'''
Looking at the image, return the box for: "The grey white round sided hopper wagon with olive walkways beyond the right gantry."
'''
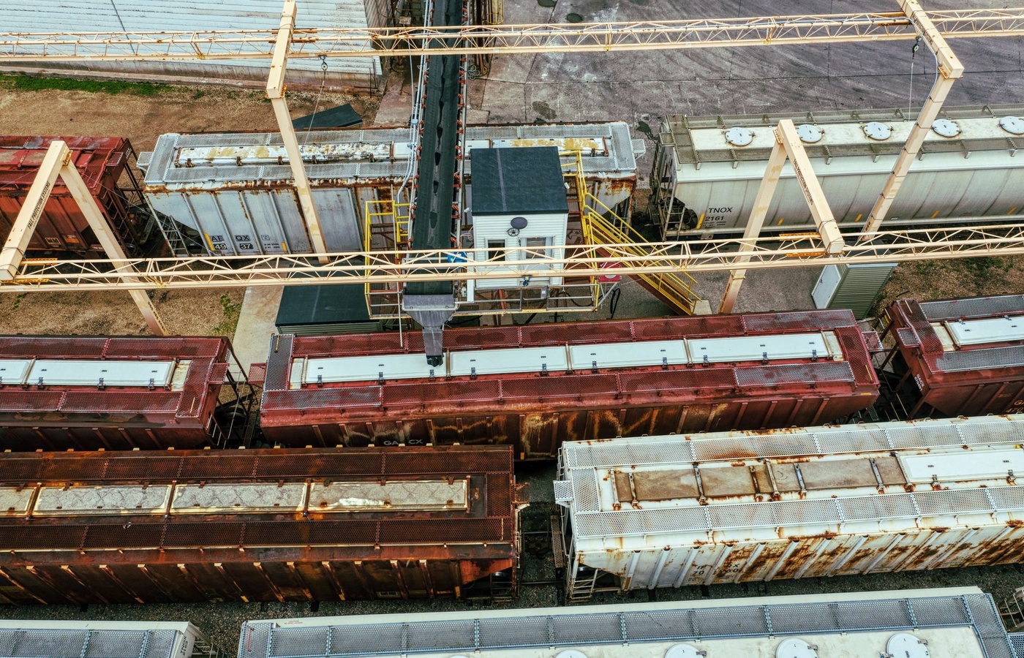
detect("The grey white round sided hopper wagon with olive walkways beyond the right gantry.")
[638,99,1024,238]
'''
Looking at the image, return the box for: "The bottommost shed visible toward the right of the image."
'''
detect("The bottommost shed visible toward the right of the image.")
[813,231,900,318]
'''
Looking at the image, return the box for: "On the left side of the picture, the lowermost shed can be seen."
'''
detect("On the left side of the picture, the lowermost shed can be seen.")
[276,256,387,334]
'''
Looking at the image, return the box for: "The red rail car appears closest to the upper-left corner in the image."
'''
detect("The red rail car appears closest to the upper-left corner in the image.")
[0,139,171,269]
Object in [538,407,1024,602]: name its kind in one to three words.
rail car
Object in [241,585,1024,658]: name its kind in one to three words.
rail car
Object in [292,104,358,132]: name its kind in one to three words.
shed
